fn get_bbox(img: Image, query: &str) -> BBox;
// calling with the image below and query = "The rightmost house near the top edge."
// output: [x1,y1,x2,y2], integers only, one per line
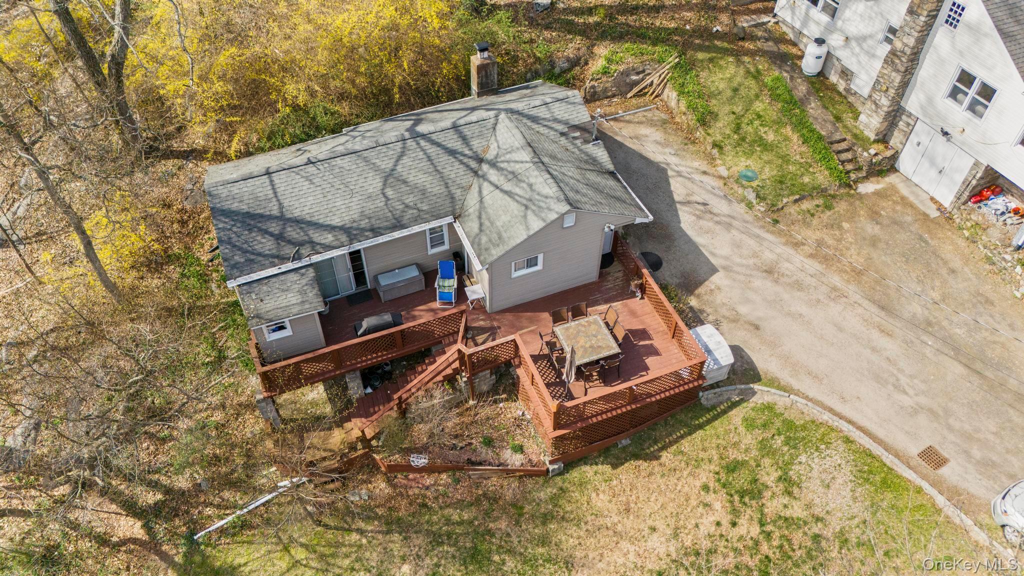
[769,0,1024,210]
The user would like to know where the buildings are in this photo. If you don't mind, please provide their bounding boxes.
[769,0,1024,210]
[202,35,657,366]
